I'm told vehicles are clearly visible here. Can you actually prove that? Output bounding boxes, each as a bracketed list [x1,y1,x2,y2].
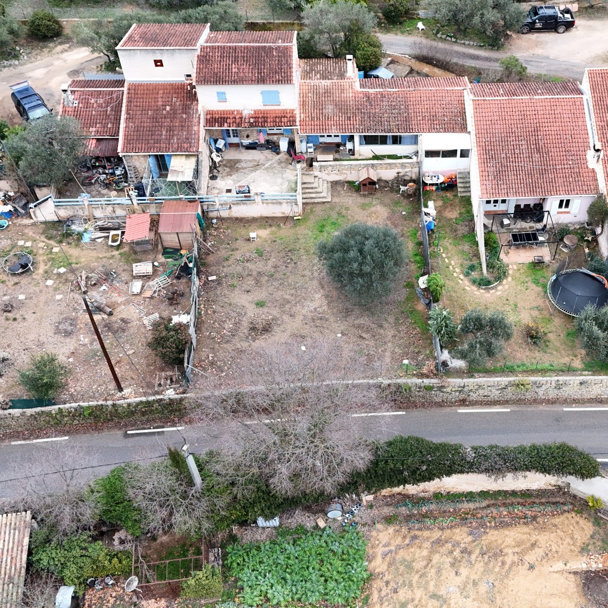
[519,4,579,32]
[6,71,49,121]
